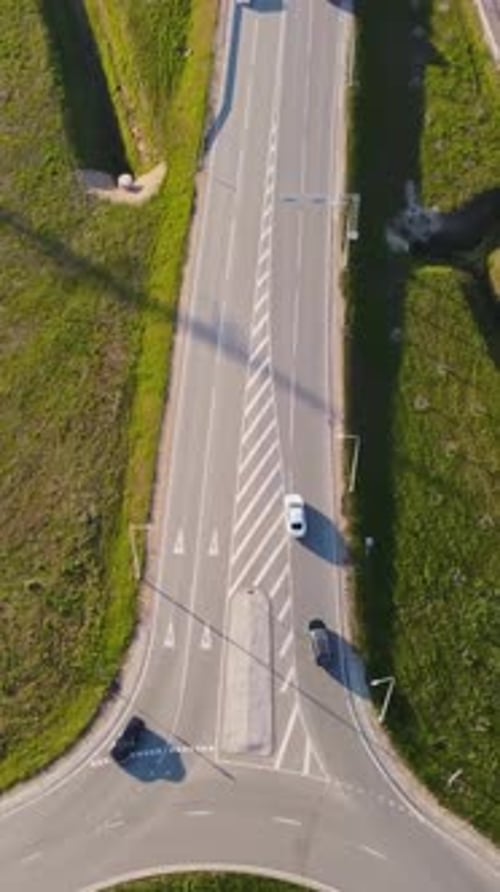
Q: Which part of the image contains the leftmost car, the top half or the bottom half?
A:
bottom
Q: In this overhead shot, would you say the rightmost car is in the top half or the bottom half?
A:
bottom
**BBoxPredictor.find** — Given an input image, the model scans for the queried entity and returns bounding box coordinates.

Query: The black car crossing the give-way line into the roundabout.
[107,714,148,771]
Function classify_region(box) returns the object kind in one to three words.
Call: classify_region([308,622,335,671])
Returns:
car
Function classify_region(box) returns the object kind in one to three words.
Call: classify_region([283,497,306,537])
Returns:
car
